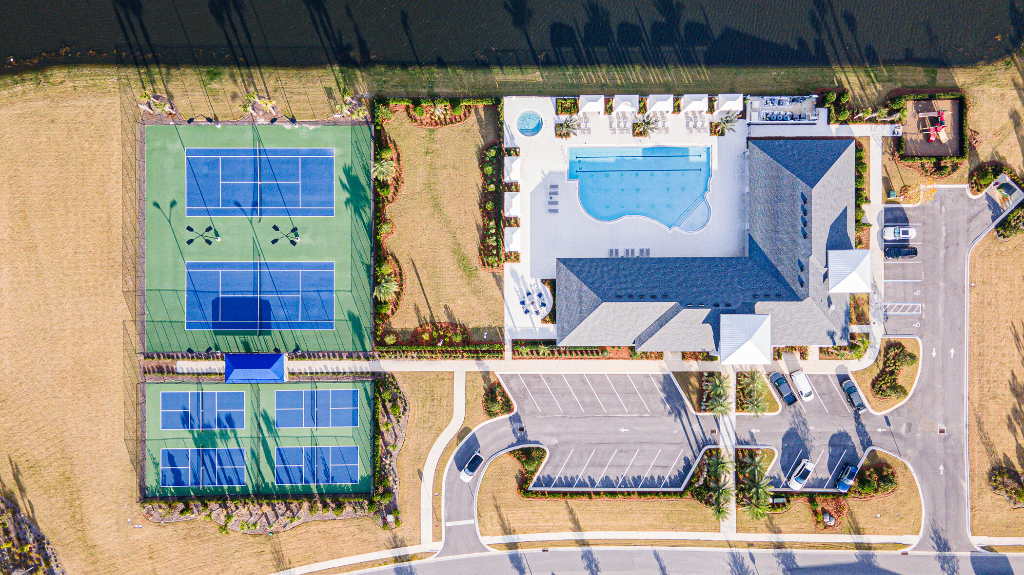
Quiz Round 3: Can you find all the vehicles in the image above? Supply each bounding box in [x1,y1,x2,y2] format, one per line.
[884,245,917,260]
[769,370,797,407]
[788,368,815,401]
[835,460,859,491]
[840,378,866,413]
[788,457,813,489]
[882,225,915,240]
[460,450,485,482]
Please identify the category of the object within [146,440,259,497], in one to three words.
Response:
sports court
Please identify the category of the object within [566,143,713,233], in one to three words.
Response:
swimming pool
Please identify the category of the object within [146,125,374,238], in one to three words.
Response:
tennis court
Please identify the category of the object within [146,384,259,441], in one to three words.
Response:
sports court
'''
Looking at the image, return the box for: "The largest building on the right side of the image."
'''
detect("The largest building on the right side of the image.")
[556,139,855,352]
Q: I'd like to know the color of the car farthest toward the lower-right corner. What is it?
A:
blue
